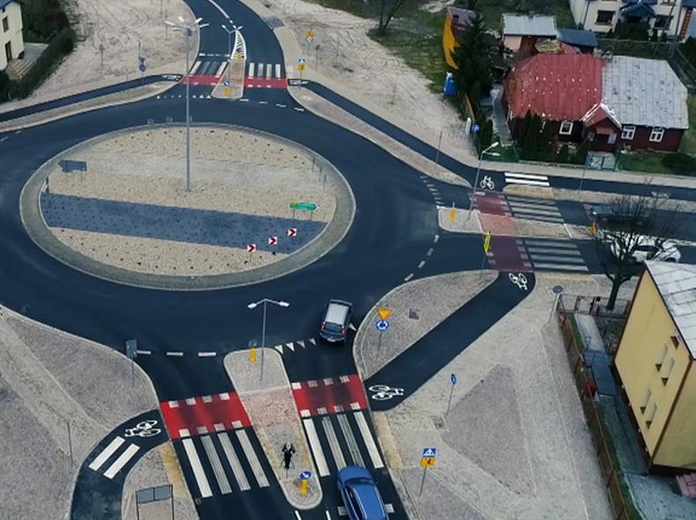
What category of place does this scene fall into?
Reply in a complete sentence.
This image shows a residential area.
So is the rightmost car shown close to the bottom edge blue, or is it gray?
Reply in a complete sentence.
From above, the rightmost car shown close to the bottom edge appears blue.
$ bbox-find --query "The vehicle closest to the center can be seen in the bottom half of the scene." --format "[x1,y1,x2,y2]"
[321,296,359,342]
